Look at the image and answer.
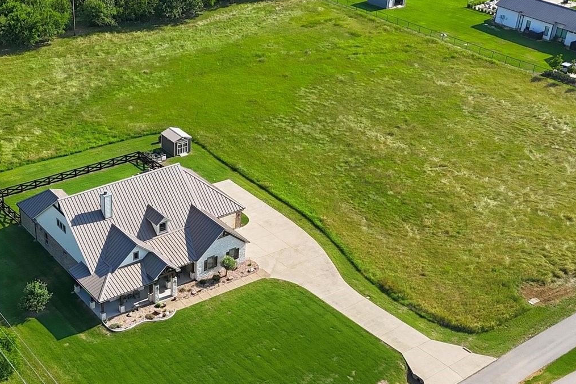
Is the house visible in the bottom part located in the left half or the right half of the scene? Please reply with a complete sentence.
The house visible in the bottom part is on the left side of the image.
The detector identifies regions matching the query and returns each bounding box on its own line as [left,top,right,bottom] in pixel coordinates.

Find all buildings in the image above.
[16,164,253,320]
[159,126,193,157]
[368,0,406,9]
[494,0,576,43]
